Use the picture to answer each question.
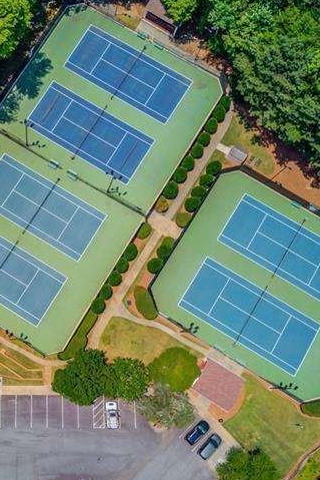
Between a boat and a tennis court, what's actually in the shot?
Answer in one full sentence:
It is a tennis court that can be seen here.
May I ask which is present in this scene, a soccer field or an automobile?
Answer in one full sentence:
This aerial view contains an automobile.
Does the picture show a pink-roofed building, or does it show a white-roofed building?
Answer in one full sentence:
There is a pink-roofed building in the scene.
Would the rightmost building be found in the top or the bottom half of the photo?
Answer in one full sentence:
Seen from above, the rightmost building lies in the bottom half of the view.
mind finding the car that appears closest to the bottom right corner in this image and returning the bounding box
[198,433,224,461]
